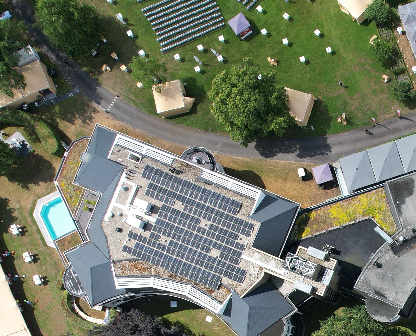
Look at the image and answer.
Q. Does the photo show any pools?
Yes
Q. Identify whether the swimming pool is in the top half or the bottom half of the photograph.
bottom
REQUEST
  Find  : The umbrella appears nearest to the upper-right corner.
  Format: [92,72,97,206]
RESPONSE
[398,1,416,25]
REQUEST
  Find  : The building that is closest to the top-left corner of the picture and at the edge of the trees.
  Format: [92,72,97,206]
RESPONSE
[11,46,41,67]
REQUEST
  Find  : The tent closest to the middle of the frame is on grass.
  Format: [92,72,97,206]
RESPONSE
[153,79,195,117]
